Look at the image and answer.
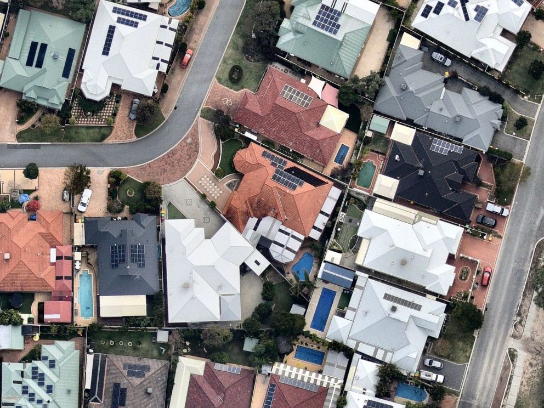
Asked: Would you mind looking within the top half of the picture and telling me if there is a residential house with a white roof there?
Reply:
Yes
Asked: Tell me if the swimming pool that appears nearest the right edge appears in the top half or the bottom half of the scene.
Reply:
bottom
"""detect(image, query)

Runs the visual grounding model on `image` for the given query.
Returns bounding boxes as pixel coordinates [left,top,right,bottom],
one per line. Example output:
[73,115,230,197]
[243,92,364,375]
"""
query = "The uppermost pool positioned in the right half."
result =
[334,144,351,166]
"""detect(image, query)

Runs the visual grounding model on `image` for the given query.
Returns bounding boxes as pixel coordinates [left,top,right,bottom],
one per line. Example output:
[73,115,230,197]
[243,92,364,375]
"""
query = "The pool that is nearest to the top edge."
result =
[167,0,192,18]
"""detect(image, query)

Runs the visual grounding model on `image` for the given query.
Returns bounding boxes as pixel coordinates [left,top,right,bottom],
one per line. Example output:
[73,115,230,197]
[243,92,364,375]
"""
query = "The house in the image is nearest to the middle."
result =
[222,141,341,263]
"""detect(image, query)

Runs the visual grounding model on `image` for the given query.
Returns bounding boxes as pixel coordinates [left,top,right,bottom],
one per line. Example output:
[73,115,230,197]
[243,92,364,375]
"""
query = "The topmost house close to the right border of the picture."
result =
[412,0,533,73]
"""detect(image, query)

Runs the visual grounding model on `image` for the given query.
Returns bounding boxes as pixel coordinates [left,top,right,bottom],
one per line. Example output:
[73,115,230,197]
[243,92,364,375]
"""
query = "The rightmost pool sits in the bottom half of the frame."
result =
[394,381,428,403]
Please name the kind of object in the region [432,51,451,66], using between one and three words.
car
